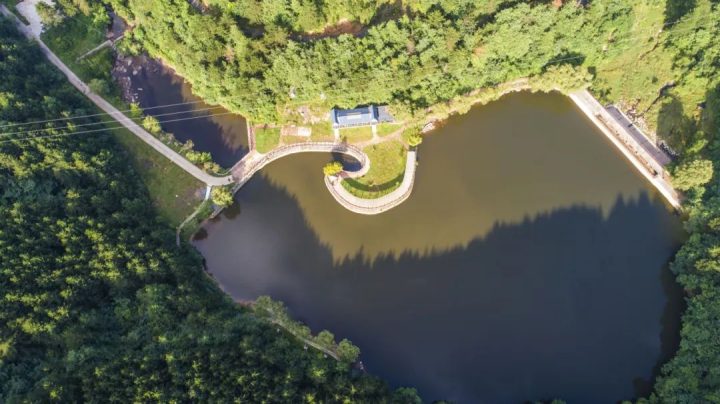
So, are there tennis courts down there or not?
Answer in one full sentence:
No, no tennis court is visible in the scene.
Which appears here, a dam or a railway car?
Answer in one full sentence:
Visible in the photo is a dam.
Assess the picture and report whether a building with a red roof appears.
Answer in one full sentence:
No, there is no building with a red roof in the image.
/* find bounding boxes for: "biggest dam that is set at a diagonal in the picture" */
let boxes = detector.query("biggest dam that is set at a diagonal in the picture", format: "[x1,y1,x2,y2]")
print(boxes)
[565,83,693,210]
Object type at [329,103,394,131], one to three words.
building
